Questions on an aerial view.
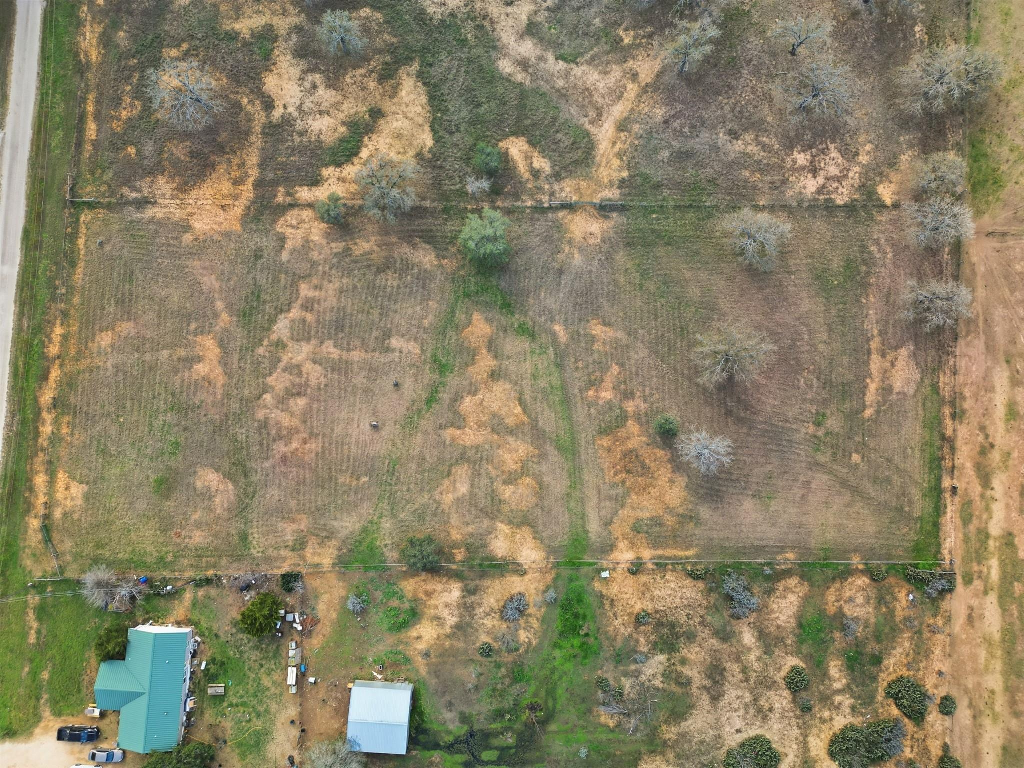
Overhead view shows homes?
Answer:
Yes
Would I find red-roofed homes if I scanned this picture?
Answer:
No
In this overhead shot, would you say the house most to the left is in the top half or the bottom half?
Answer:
bottom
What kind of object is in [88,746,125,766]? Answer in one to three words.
car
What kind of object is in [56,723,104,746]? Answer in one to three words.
truck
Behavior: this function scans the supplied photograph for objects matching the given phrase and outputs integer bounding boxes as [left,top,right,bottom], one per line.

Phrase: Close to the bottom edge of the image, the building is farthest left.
[94,623,193,755]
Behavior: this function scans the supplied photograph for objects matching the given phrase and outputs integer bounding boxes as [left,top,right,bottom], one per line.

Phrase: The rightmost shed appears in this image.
[348,672,414,754]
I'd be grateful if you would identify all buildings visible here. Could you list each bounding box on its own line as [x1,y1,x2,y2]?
[94,623,193,755]
[348,672,414,754]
